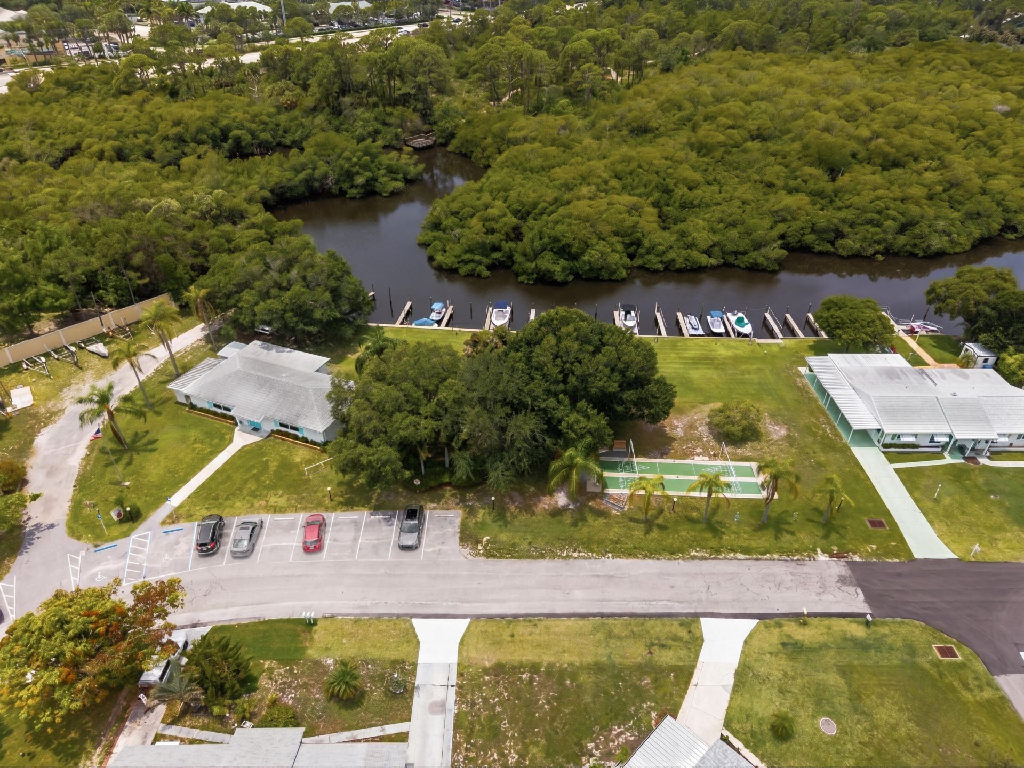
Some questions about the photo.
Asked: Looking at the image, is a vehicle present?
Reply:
Yes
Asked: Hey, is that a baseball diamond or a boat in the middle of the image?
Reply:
boat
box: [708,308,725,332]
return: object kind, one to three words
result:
boat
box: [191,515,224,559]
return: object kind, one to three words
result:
car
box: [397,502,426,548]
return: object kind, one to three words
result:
car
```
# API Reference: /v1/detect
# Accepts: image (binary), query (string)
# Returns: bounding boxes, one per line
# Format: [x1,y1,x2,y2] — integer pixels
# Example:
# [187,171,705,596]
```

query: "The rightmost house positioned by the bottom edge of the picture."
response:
[621,713,751,768]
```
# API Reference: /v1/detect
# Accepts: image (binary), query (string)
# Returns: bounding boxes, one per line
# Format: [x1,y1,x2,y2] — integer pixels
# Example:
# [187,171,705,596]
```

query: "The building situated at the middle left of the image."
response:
[167,340,344,442]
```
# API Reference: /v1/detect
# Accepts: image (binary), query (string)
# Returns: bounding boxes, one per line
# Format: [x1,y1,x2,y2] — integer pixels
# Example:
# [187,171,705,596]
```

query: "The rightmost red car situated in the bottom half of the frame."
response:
[301,513,328,552]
